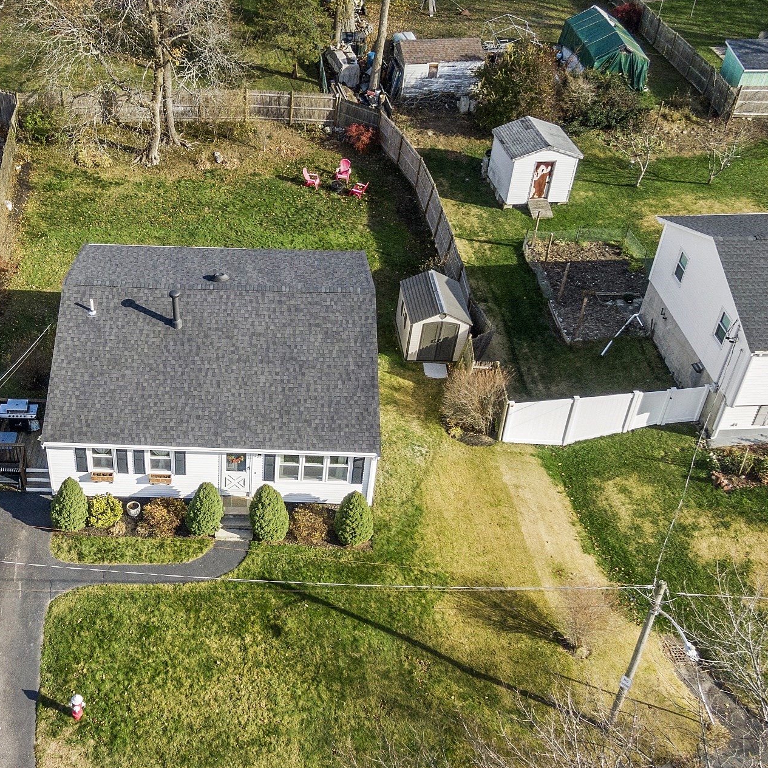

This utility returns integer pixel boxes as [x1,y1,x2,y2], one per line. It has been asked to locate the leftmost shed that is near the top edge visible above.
[392,37,489,97]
